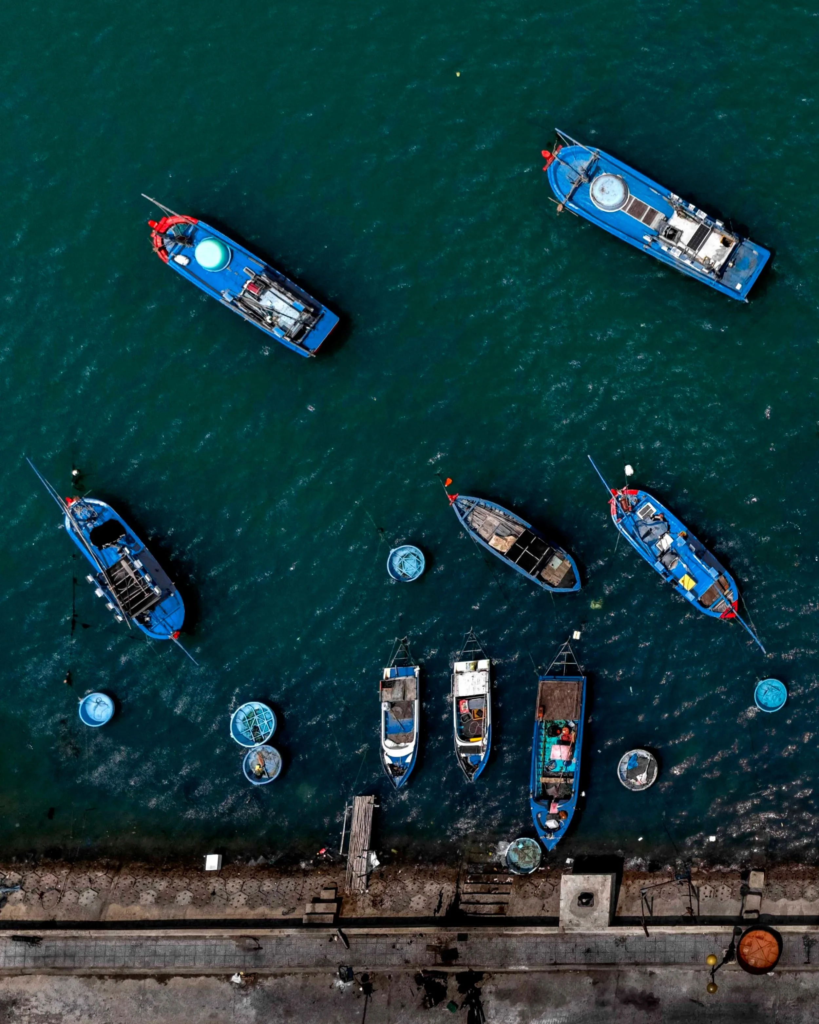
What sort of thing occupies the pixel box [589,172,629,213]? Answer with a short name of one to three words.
boat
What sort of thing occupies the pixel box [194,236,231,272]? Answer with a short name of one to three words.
boat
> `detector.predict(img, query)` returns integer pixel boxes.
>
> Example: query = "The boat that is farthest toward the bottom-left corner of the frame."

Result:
[78,692,115,727]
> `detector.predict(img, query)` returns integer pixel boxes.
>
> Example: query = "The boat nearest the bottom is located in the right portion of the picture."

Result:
[736,927,783,974]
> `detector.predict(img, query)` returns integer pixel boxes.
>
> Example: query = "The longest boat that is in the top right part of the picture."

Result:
[540,128,770,303]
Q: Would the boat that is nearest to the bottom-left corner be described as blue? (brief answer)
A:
Yes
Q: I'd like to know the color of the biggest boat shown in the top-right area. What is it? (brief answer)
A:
blue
